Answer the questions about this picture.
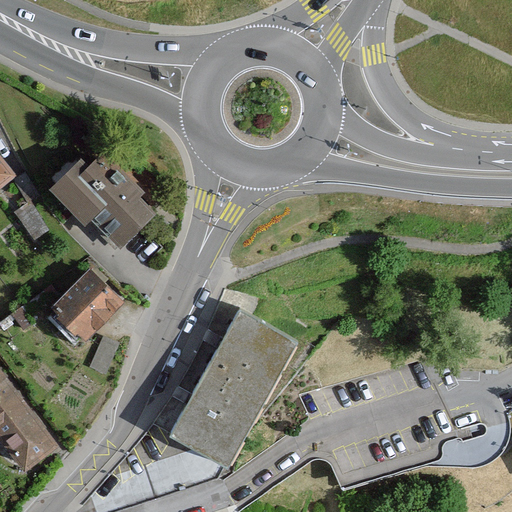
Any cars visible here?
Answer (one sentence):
Yes, there is a car in the image.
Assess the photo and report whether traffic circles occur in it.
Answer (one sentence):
Yes, looking at the shot, I can spot a traffic circle.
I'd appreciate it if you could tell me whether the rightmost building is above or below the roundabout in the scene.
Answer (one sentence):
From this view, the rightmost building can be seen below the roundabout.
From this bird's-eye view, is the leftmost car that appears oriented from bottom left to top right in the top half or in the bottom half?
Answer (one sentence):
Seen from above, the leftmost car that appears oriented from bottom left to top right lies in the bottom half of the view.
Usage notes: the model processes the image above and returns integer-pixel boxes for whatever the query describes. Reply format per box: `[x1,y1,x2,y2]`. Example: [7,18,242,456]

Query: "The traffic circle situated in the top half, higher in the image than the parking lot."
[179,24,346,190]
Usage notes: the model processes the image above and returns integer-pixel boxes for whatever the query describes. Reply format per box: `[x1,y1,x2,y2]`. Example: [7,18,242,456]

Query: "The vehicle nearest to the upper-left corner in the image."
[17,8,35,22]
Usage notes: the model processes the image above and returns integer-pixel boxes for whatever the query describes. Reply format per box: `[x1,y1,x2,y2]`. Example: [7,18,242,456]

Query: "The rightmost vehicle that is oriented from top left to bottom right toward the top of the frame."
[297,72,317,89]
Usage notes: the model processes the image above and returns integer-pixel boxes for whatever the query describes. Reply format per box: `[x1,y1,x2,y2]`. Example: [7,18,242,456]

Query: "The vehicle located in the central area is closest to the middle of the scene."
[196,288,210,308]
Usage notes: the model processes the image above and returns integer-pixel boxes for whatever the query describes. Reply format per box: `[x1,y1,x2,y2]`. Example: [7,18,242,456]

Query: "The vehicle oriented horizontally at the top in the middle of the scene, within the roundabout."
[246,48,267,60]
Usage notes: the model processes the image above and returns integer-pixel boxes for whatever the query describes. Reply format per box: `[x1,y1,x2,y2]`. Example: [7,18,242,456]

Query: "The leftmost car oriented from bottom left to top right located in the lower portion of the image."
[98,474,119,496]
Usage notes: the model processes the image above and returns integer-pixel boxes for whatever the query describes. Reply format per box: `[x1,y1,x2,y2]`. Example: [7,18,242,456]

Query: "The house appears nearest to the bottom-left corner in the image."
[0,366,59,472]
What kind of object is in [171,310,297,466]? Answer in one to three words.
building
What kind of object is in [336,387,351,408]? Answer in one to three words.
car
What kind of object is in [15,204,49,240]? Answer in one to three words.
shed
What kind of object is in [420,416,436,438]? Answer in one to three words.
car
